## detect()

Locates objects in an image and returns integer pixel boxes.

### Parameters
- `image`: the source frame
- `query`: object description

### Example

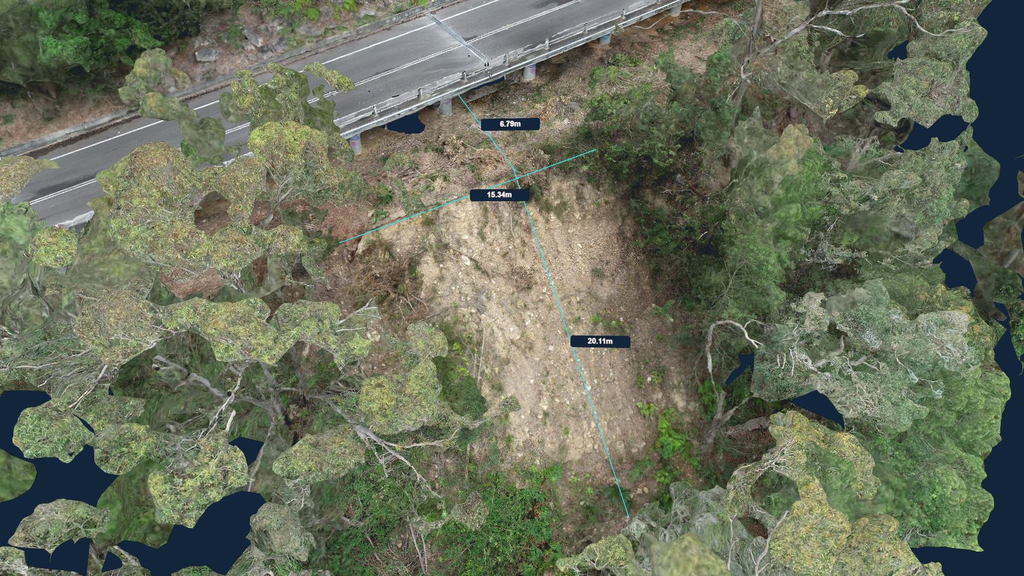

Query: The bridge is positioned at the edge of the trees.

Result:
[320,0,694,155]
